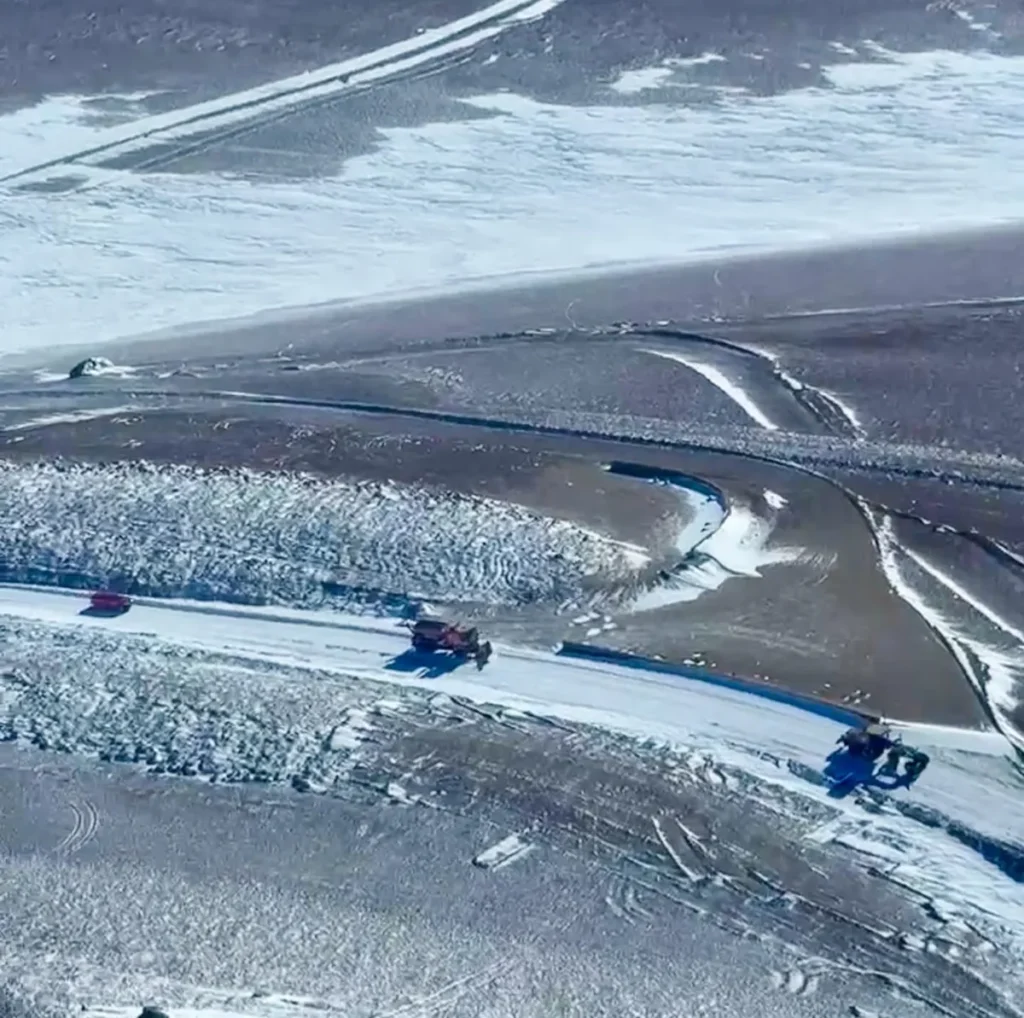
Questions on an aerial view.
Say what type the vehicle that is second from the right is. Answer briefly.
truck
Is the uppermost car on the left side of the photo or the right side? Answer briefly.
left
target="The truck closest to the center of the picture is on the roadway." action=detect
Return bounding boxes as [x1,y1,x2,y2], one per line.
[408,621,491,672]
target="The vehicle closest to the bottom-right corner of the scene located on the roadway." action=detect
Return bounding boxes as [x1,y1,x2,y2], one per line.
[843,719,933,789]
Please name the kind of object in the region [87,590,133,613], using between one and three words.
car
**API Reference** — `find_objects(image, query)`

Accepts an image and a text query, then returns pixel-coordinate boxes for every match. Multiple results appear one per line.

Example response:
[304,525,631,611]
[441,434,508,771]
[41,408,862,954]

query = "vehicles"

[408,621,491,672]
[87,590,133,613]
[843,719,933,789]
